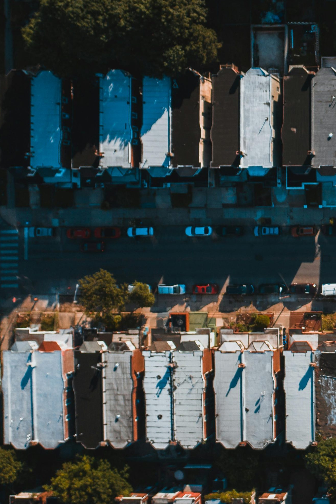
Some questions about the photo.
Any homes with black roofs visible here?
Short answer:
Yes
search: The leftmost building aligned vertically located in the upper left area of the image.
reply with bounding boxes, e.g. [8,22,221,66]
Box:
[0,69,57,195]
